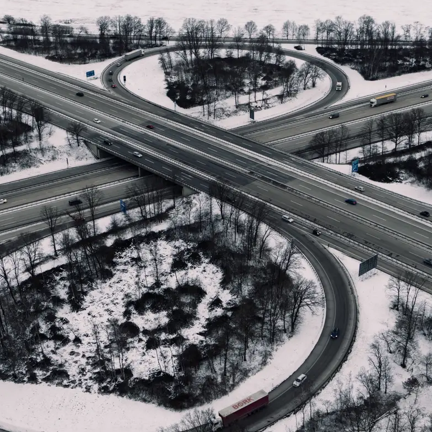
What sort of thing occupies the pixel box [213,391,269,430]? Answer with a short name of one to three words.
truck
